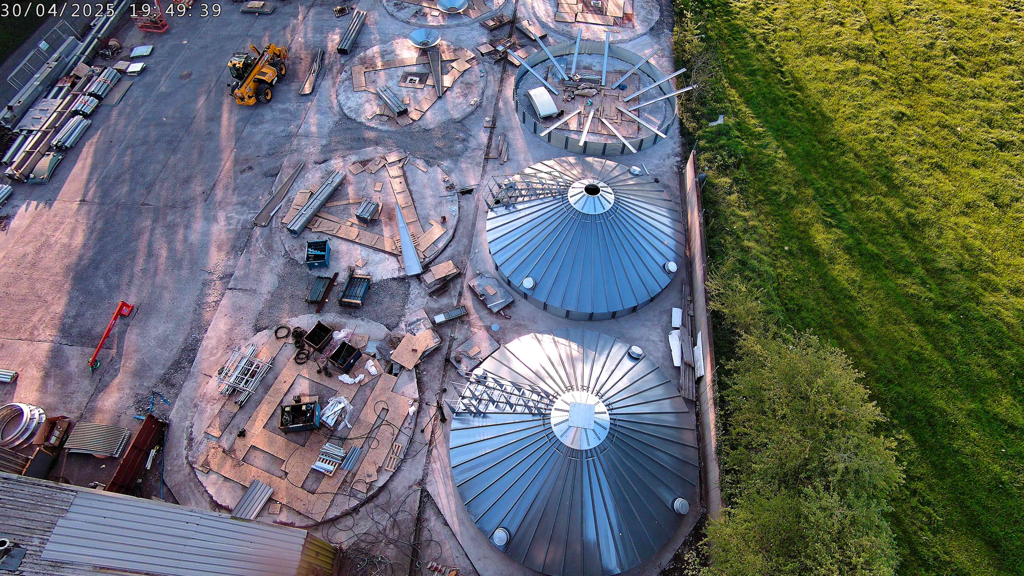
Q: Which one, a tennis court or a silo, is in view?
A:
silo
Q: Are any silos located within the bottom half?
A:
Yes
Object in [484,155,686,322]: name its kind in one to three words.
silo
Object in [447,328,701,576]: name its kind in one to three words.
silo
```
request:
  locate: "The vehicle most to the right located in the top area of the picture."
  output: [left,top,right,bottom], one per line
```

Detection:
[215,41,288,105]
